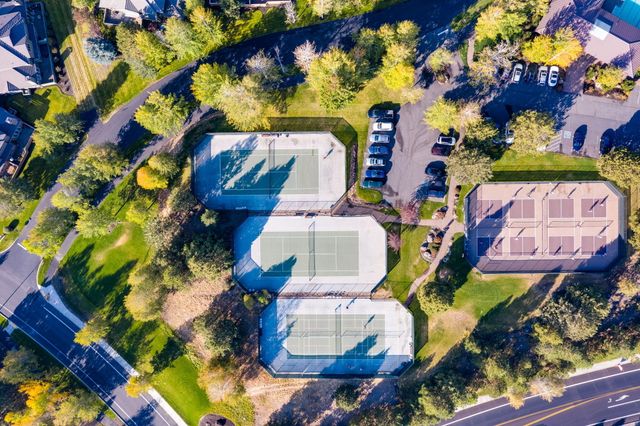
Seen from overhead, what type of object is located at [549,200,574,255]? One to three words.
sports court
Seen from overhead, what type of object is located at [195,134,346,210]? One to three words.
tennis court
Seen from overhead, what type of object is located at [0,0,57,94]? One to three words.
house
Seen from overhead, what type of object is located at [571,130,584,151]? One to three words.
vehicle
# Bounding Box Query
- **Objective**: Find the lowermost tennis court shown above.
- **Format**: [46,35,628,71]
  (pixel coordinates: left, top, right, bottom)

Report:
[261,299,413,374]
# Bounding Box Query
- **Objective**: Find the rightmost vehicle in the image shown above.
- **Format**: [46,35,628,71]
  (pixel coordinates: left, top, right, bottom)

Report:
[598,132,611,152]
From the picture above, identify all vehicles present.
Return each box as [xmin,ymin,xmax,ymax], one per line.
[369,109,394,119]
[548,67,559,87]
[428,177,448,186]
[365,169,385,177]
[598,132,611,152]
[537,64,549,88]
[373,122,393,131]
[369,145,389,154]
[432,145,452,154]
[428,187,448,196]
[436,136,456,144]
[511,63,523,84]
[363,179,383,188]
[370,134,390,142]
[571,130,584,151]
[366,157,386,166]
